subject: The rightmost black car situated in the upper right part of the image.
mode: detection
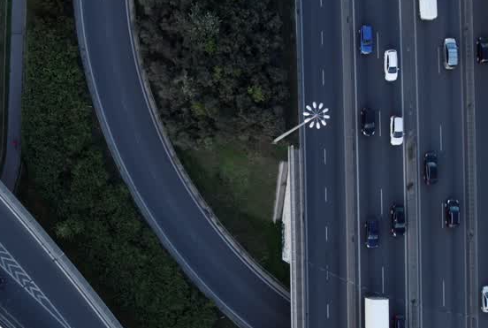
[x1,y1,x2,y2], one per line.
[475,38,488,64]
